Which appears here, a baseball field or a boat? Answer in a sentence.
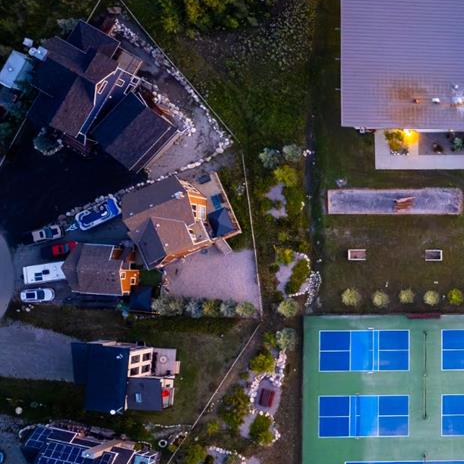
Visible in the photo is a boat.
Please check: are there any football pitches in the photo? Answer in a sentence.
No, I can see no football pitch in this picture.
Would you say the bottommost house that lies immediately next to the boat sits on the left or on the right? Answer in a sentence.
The bottommost house that lies immediately next to the boat is on the left side of the image.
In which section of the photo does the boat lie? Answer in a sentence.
Look in the left portion of the view to spot the boat.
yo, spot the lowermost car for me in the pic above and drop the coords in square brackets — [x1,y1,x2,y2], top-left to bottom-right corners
[22,286,59,302]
